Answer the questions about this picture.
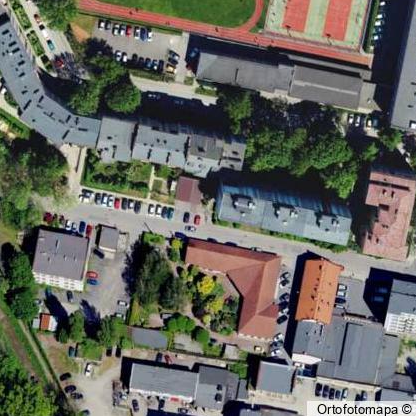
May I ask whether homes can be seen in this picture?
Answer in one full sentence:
Yes, the frame does contain a home.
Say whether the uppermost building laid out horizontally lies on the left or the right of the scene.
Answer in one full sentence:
You can find the uppermost building laid out horizontally on the right side of the picture.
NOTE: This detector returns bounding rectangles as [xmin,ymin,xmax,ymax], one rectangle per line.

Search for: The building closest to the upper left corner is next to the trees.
[98,116,138,166]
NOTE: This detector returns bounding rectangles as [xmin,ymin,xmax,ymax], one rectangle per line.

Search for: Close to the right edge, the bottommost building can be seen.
[377,391,416,416]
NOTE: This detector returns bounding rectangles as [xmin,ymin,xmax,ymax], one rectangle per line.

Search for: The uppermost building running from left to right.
[196,51,381,111]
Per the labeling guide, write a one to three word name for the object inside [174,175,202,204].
shed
